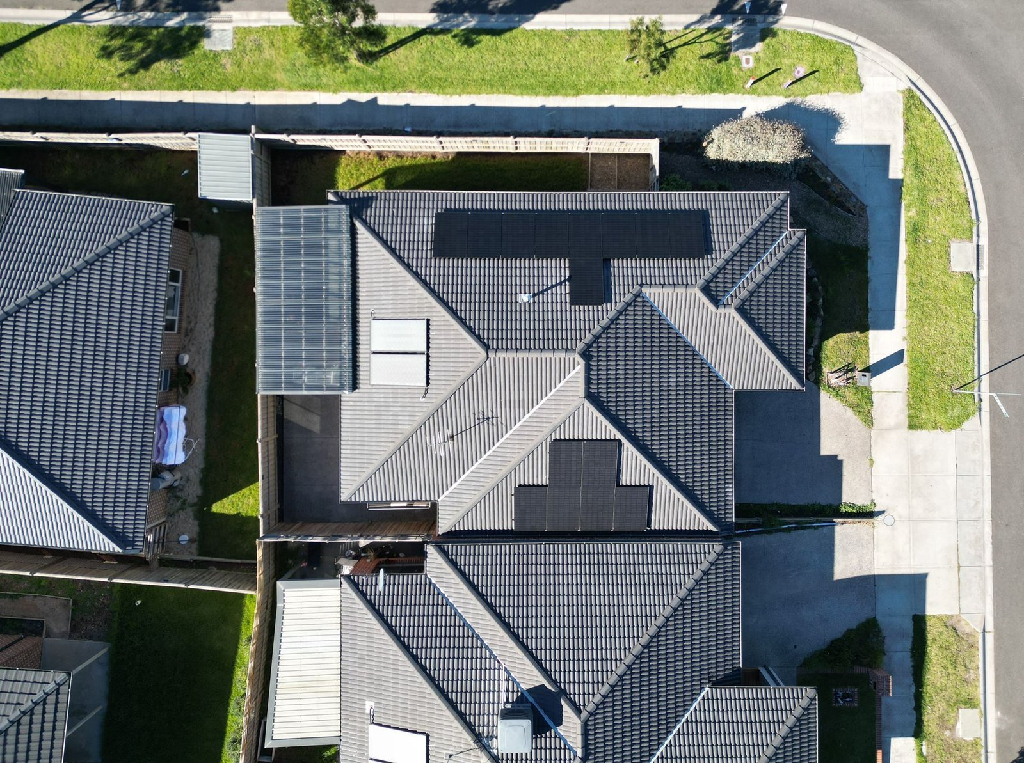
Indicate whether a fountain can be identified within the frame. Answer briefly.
No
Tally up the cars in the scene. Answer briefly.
0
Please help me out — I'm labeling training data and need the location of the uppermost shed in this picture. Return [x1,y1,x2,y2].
[197,132,256,212]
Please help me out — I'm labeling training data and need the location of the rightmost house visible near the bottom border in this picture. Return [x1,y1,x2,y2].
[337,538,820,763]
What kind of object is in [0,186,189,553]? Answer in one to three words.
house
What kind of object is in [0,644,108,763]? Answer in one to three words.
house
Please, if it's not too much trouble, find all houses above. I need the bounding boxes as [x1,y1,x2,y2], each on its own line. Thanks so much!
[326,188,808,535]
[0,186,189,553]
[337,538,820,763]
[0,644,108,763]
